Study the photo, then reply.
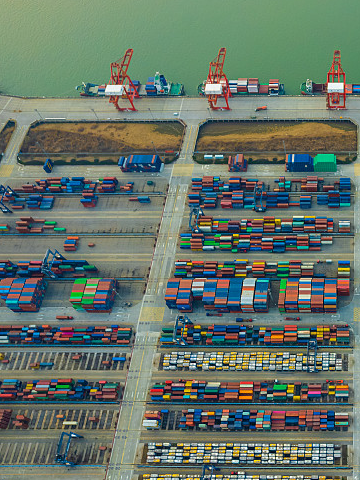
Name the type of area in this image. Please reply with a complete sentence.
This looks like a port.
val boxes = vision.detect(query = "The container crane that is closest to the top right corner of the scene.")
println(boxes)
[323,48,345,109]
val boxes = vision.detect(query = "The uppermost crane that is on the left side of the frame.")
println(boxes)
[105,47,141,109]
